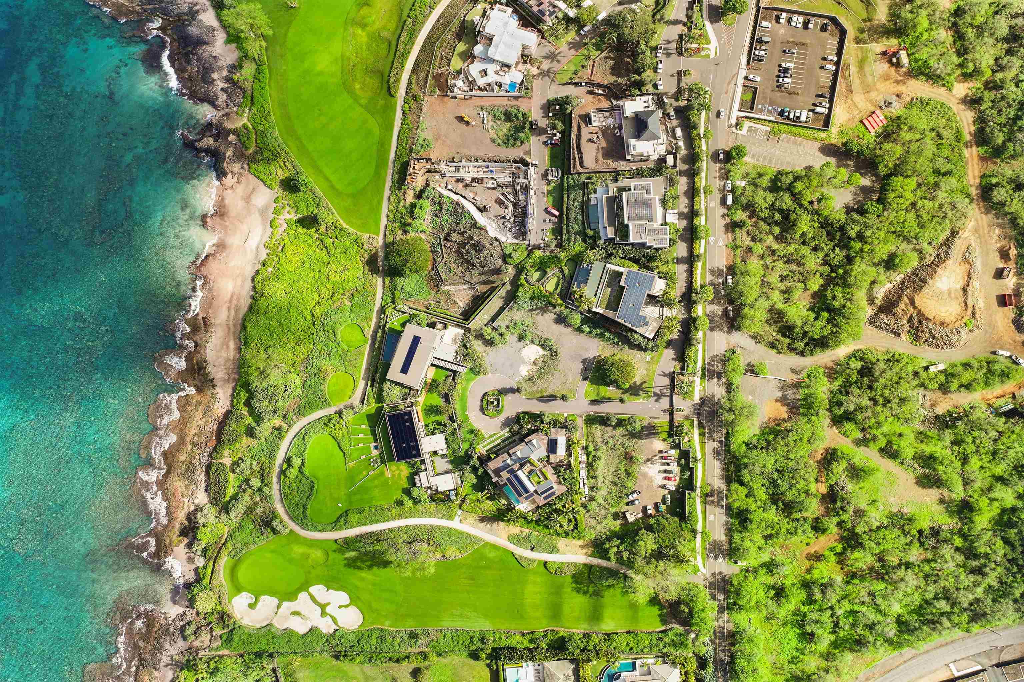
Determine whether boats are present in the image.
No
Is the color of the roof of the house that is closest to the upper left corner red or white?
white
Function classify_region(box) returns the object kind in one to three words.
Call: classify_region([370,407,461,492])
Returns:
house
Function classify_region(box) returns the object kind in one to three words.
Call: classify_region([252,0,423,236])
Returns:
golf course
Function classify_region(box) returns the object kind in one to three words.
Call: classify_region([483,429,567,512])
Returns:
house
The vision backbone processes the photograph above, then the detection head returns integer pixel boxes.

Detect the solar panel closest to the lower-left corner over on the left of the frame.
[387,411,421,461]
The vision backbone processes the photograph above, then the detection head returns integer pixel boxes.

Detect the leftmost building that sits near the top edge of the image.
[456,3,541,92]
